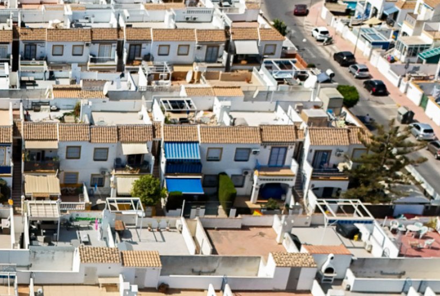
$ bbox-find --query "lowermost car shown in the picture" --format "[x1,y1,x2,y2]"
[423,137,440,156]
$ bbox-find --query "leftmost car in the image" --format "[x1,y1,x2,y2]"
[291,1,309,13]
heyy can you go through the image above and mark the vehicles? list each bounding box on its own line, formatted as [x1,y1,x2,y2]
[332,48,357,62]
[346,61,372,75]
[306,24,331,38]
[423,137,440,156]
[291,1,309,13]
[409,120,438,137]
[363,76,390,91]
